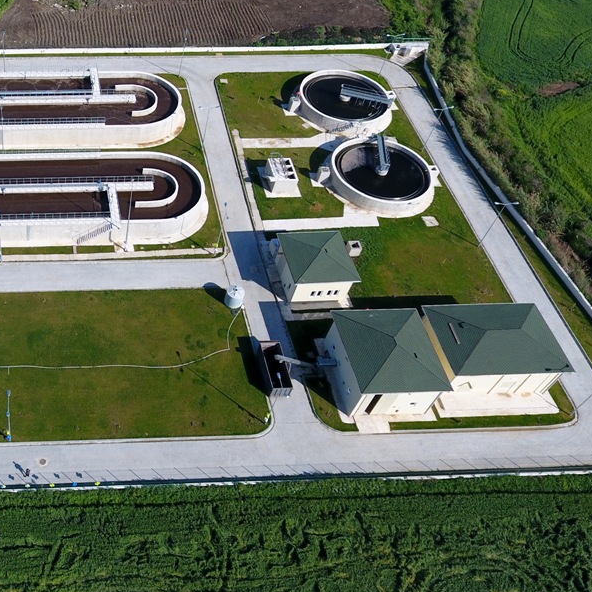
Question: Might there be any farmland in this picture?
Yes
